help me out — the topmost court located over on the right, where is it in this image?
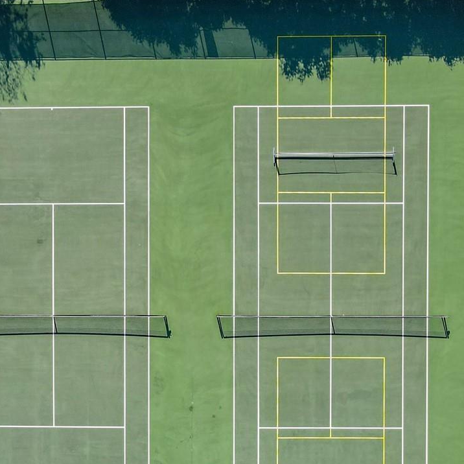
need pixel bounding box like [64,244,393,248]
[277,34,386,274]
